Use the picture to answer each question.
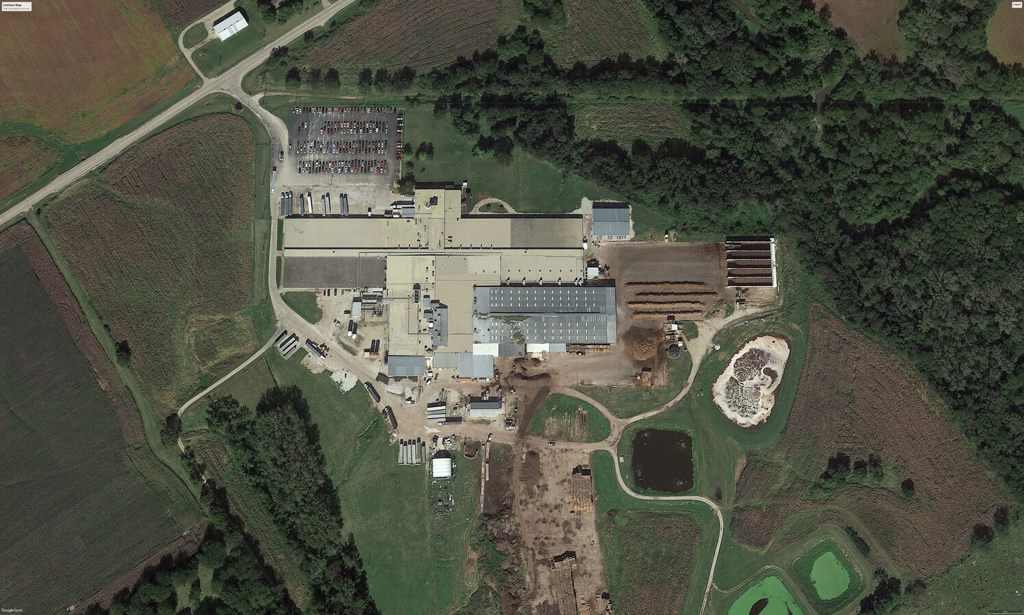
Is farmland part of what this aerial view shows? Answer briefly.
Yes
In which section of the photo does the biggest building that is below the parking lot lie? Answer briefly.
center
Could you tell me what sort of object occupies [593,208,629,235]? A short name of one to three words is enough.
building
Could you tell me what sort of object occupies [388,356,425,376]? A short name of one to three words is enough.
shed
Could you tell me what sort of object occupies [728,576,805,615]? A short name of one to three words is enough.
pond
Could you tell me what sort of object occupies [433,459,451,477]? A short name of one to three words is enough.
building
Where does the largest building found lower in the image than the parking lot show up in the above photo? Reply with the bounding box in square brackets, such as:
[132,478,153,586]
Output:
[284,189,583,355]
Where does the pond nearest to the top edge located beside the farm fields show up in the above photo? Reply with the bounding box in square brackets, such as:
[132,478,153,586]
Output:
[712,335,790,429]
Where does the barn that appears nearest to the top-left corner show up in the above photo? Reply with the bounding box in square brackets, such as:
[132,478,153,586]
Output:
[213,11,248,41]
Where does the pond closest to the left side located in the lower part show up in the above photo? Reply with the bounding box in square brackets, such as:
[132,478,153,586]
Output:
[631,429,694,492]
